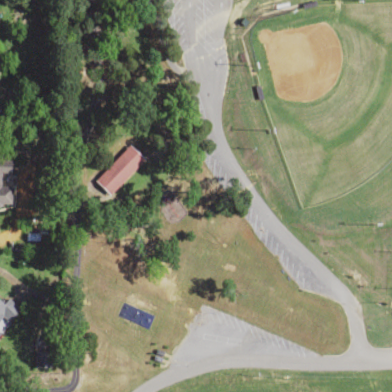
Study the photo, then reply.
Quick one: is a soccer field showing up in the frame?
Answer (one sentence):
No, I find no soccer field anywhere in the image.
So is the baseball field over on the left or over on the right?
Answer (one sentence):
The baseball field appears in the right half of the scene.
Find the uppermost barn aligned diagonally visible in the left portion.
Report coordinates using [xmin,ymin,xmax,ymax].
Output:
[96,143,145,196]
